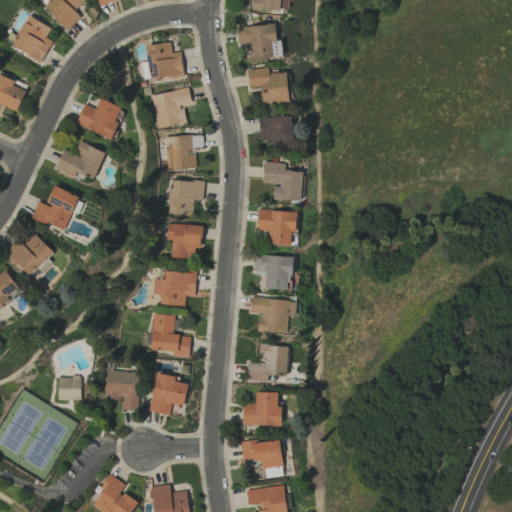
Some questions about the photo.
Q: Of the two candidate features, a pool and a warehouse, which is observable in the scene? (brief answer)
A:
pool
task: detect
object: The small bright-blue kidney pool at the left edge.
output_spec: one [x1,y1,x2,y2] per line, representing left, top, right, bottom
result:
[0,296,30,321]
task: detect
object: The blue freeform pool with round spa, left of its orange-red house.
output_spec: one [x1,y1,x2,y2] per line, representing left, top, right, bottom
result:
[127,268,161,308]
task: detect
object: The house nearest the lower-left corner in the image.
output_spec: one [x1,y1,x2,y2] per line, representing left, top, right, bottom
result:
[92,476,138,512]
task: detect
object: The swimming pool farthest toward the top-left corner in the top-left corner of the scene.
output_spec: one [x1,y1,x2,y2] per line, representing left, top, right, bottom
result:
[12,9,31,34]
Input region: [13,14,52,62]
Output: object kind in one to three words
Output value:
house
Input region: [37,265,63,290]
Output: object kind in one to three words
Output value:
swimming pool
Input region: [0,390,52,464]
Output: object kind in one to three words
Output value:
tennis court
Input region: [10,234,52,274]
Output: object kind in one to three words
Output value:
house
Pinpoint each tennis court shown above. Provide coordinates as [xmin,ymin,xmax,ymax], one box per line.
[18,408,78,480]
[0,390,52,464]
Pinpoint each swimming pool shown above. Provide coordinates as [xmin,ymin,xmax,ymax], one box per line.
[135,41,150,62]
[50,214,99,246]
[52,340,95,378]
[127,268,161,308]
[12,9,31,34]
[0,296,30,321]
[96,156,118,190]
[37,265,63,290]
[155,361,183,374]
